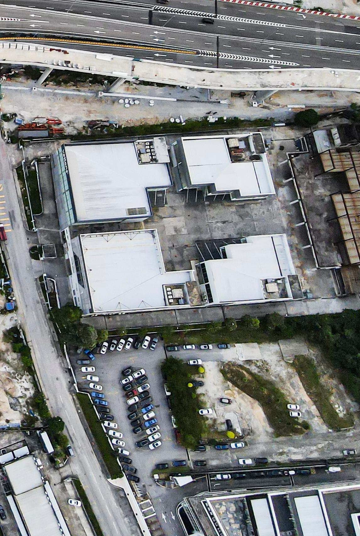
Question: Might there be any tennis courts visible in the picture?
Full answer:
No, no tennis court is visible in the scene.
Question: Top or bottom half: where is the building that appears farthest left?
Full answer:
The building that appears farthest left is in the bottom half of the image.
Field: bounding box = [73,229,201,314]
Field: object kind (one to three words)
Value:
building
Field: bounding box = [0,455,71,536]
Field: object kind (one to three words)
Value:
building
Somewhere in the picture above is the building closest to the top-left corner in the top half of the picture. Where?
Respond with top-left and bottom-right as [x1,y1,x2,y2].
[54,138,172,230]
